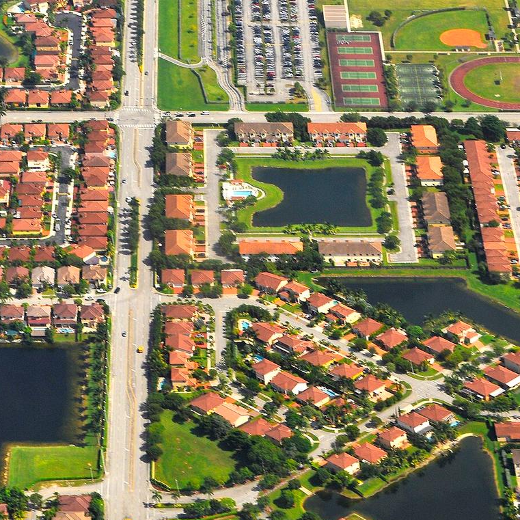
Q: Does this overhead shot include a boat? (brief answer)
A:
No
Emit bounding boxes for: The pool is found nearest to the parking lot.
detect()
[223,183,265,200]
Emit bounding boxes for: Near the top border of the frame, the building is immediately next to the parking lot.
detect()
[322,4,349,32]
